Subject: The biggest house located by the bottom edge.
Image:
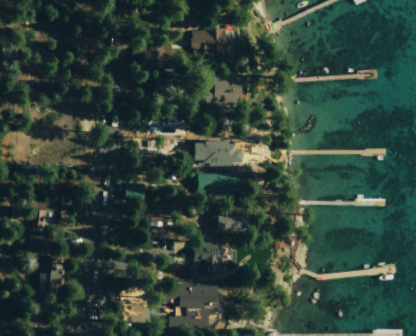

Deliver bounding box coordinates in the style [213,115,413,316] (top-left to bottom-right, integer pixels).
[164,284,218,327]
